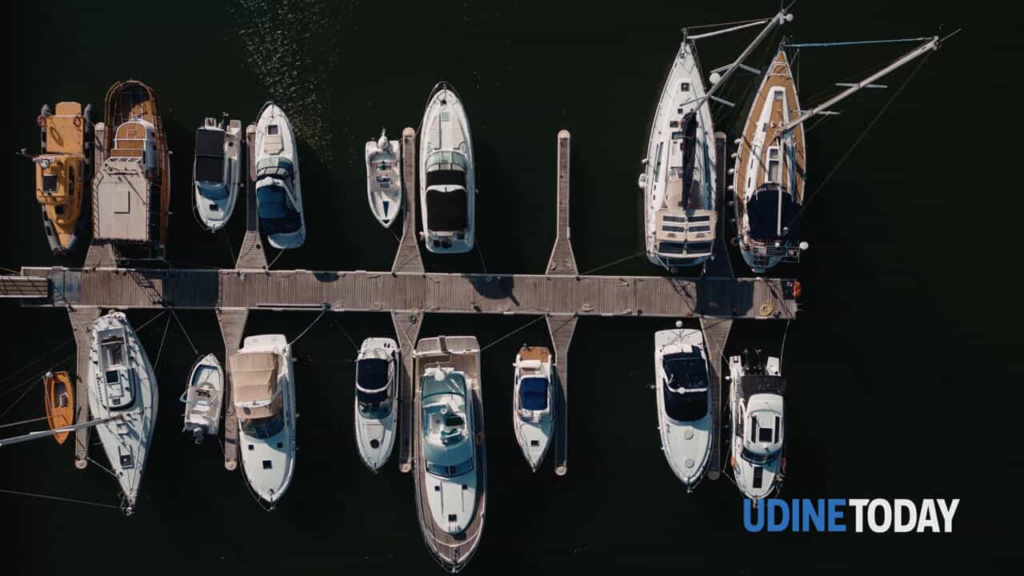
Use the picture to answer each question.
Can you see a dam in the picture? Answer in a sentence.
No, no dam can be seen from above.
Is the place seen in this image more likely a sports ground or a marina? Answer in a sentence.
It's a marina.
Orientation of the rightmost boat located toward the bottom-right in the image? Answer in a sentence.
From this overhead view, the rightmost boat located toward the bottom-right appears to run vertically.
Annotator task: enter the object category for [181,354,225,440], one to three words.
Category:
boat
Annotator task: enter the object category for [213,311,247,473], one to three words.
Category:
pier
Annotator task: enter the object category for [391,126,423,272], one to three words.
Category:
pier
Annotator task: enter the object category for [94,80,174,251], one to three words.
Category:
boat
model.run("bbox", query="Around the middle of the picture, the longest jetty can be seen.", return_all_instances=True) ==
[19,266,796,322]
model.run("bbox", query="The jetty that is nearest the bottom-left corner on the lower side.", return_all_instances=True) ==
[63,308,100,471]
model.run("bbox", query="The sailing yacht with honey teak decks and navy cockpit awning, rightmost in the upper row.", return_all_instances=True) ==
[730,35,955,272]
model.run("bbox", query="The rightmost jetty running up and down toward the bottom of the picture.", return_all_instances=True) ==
[701,320,736,481]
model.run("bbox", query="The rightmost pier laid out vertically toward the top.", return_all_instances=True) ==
[702,131,736,276]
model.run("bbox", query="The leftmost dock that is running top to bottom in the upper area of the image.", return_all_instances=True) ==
[78,120,116,268]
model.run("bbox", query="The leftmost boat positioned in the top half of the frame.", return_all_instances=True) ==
[13,101,91,258]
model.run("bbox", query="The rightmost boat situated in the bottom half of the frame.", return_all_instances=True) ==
[726,346,786,507]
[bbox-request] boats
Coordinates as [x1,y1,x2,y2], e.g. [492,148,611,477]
[726,346,786,507]
[514,344,555,475]
[181,354,225,440]
[13,101,91,258]
[412,335,487,571]
[231,334,296,513]
[190,105,242,236]
[366,122,401,226]
[356,336,400,475]
[255,96,308,249]
[45,370,77,444]
[643,10,797,273]
[419,83,475,254]
[94,80,174,251]
[730,35,955,272]
[0,308,159,519]
[654,327,712,491]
